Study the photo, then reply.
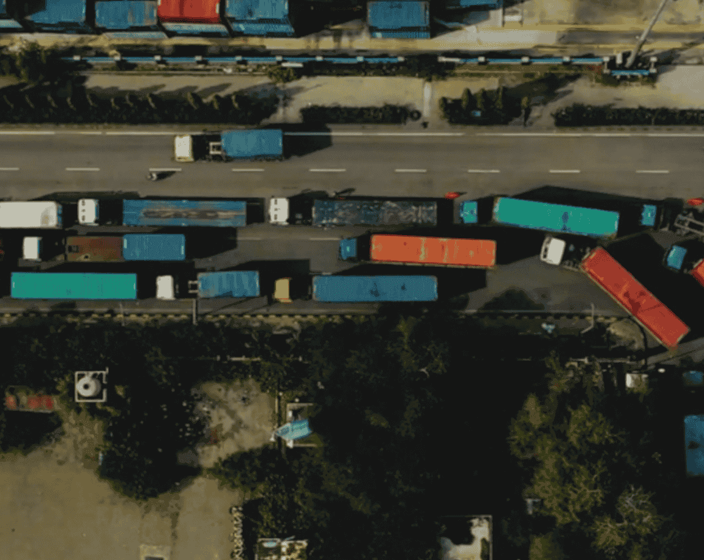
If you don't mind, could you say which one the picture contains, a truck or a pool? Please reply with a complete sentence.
The one in the frame is a truck.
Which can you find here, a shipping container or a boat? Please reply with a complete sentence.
Of the two, only a shipping container appears.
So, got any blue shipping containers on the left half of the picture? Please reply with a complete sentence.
Yes, you'll find a blue shipping container on the left half of the picture.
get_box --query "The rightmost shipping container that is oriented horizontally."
[491,197,619,238]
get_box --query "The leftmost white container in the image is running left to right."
[0,203,65,230]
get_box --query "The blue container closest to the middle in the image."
[313,276,438,302]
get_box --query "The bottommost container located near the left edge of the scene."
[11,274,141,300]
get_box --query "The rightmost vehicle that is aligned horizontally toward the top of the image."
[631,200,704,242]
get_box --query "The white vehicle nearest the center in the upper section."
[267,197,437,227]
